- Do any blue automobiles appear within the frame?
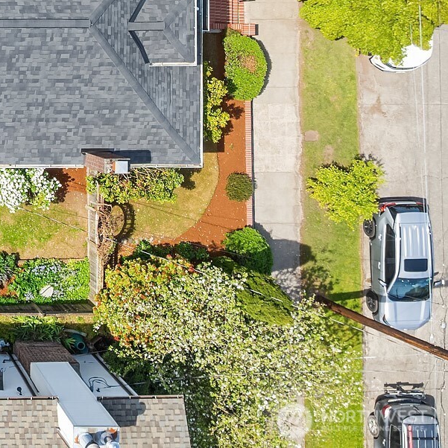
No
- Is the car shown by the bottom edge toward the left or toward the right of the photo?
right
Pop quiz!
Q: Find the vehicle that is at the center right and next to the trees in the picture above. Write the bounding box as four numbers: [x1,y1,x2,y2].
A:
[363,198,436,326]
